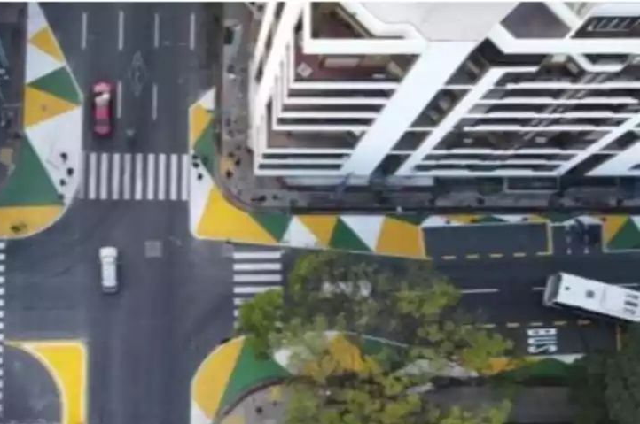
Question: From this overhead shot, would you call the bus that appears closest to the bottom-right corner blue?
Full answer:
No, from above the bus that appears closest to the bottom-right corner looks white.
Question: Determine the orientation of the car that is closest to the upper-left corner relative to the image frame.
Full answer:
The car that is closest to the upper-left corner has been laid out up and down relative to the frame.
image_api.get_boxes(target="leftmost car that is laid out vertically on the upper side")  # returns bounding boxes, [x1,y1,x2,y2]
[89,84,114,136]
